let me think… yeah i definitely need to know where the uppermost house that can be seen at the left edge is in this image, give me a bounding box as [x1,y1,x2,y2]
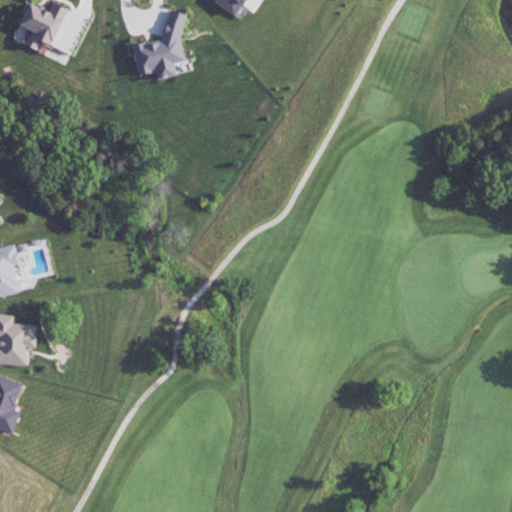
[12,0,71,42]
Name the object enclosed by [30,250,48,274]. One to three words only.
swimming pool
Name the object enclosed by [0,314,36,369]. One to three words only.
house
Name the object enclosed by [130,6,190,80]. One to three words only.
house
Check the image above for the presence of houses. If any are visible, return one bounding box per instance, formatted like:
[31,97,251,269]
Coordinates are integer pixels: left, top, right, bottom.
[208,0,252,20]
[0,371,26,437]
[12,0,71,42]
[130,6,190,80]
[0,240,23,298]
[0,314,36,369]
